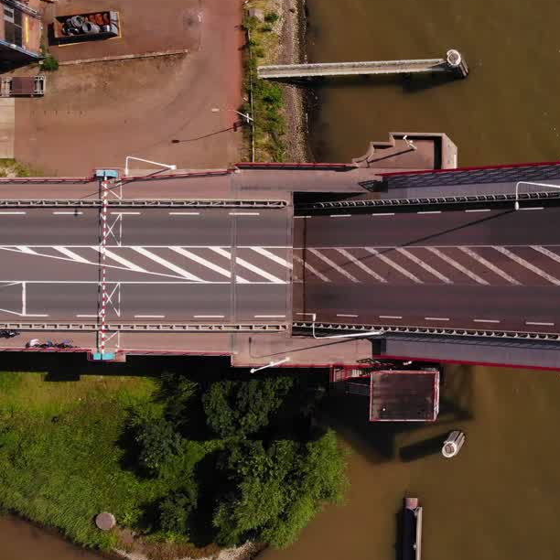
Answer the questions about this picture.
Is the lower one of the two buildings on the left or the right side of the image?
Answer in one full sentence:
It is on the right.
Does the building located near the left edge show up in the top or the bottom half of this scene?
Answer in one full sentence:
The building located near the left edge is in the top half of the image.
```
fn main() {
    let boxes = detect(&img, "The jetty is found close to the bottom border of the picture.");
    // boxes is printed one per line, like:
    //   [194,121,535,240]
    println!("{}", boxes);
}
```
[405,491,424,560]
